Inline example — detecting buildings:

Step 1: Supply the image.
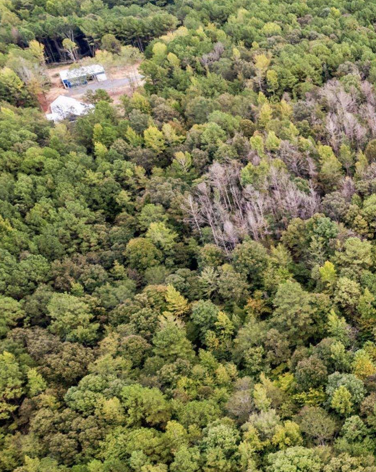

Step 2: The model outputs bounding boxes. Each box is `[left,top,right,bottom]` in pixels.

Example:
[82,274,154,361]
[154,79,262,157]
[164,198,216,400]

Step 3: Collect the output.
[61,61,108,89]
[44,96,94,127]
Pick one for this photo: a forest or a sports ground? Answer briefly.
forest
